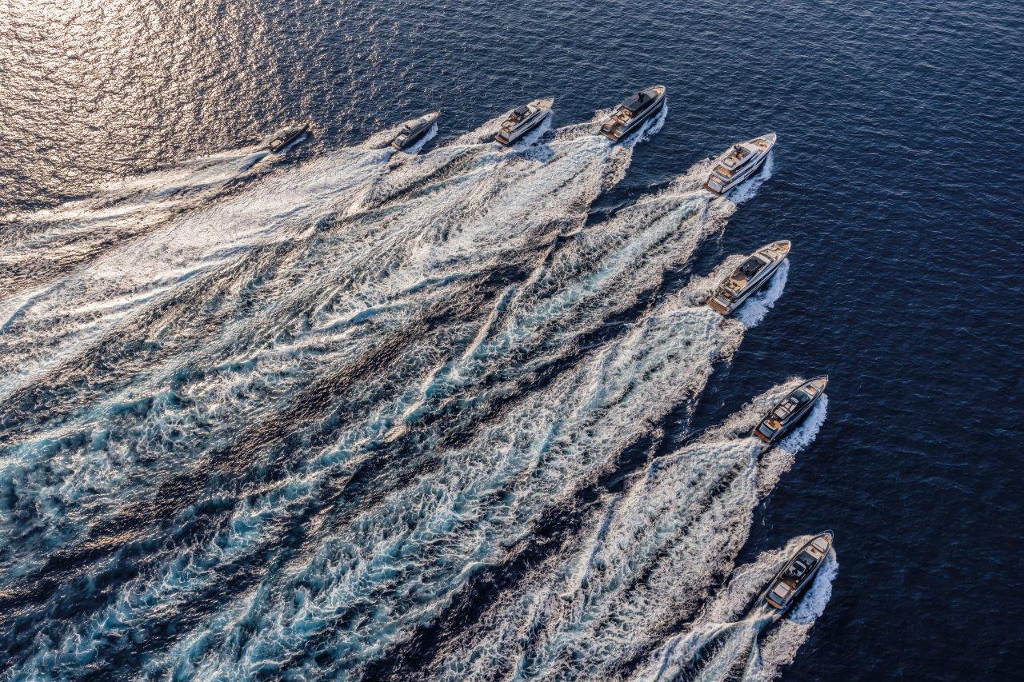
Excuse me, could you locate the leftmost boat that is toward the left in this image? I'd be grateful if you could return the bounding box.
[268,122,307,152]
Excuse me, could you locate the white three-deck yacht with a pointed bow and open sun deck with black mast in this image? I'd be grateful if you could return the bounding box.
[703,128,777,197]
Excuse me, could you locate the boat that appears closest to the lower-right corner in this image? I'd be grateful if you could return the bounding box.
[764,533,833,613]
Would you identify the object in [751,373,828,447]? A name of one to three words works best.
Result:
boat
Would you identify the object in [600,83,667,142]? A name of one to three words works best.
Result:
boat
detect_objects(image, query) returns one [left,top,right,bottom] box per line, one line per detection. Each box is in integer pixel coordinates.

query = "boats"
[751,373,828,447]
[703,128,777,197]
[764,533,833,613]
[390,108,440,151]
[494,94,554,146]
[268,122,307,152]
[706,239,792,316]
[600,83,667,142]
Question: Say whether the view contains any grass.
No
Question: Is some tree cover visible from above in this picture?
No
